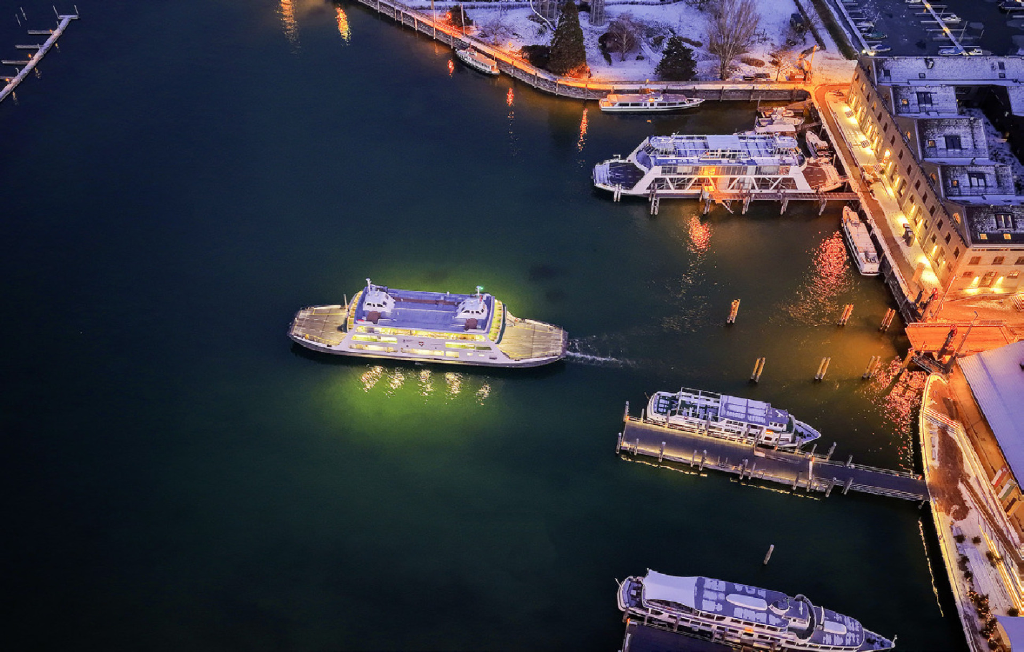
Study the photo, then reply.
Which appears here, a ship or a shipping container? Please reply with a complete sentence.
The image shows a ship.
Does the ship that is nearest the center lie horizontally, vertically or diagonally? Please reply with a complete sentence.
From this overhead view, the ship that is nearest the center appears to run horizontally.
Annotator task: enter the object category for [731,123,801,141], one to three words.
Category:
boat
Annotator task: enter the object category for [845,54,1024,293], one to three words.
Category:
warehouse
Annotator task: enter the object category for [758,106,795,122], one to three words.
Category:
boat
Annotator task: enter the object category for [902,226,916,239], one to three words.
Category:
vehicle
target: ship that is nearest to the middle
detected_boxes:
[286,278,571,373]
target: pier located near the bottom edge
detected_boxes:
[624,617,773,652]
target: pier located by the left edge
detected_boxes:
[0,15,80,104]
